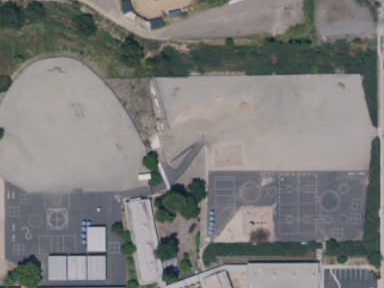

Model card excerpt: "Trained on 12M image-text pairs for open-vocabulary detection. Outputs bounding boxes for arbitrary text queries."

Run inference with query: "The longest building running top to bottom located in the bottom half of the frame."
[125,198,163,284]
